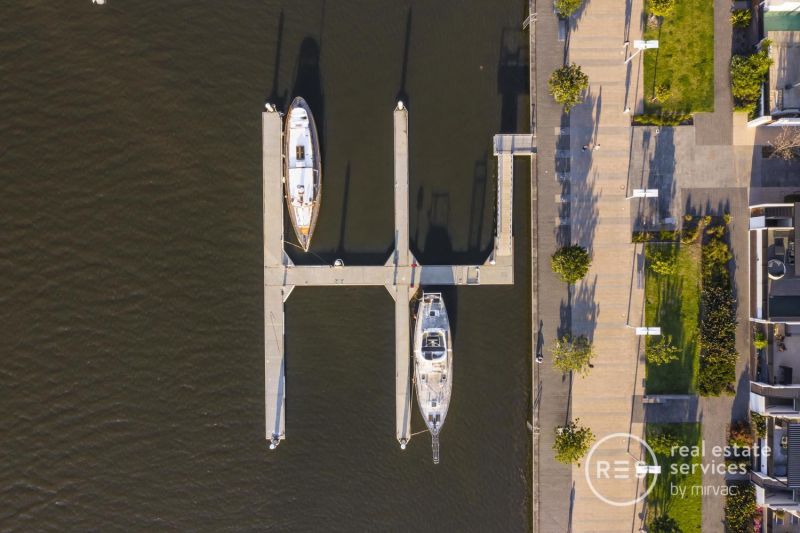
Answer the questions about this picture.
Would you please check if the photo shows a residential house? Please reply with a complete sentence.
Yes, a residential house is visible in the scene.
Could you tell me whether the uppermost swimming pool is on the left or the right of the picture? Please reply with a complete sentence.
You can find the uppermost swimming pool on the right side of the picture.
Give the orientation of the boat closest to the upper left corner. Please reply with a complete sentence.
I'd say the boat closest to the upper left corner is aligned up and down in the picture.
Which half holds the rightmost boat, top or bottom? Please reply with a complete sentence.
It is in the bottom half that the rightmost boat appears.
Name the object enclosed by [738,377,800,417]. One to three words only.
building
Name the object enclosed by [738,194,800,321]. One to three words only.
house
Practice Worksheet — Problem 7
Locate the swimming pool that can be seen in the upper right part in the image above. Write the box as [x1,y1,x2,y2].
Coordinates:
[764,11,800,32]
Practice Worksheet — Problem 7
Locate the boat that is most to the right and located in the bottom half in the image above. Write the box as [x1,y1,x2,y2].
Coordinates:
[413,292,454,465]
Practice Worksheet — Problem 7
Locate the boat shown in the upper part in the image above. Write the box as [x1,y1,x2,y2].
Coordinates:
[283,95,322,250]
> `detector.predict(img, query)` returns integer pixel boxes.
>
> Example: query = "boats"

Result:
[413,292,454,465]
[283,95,322,250]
